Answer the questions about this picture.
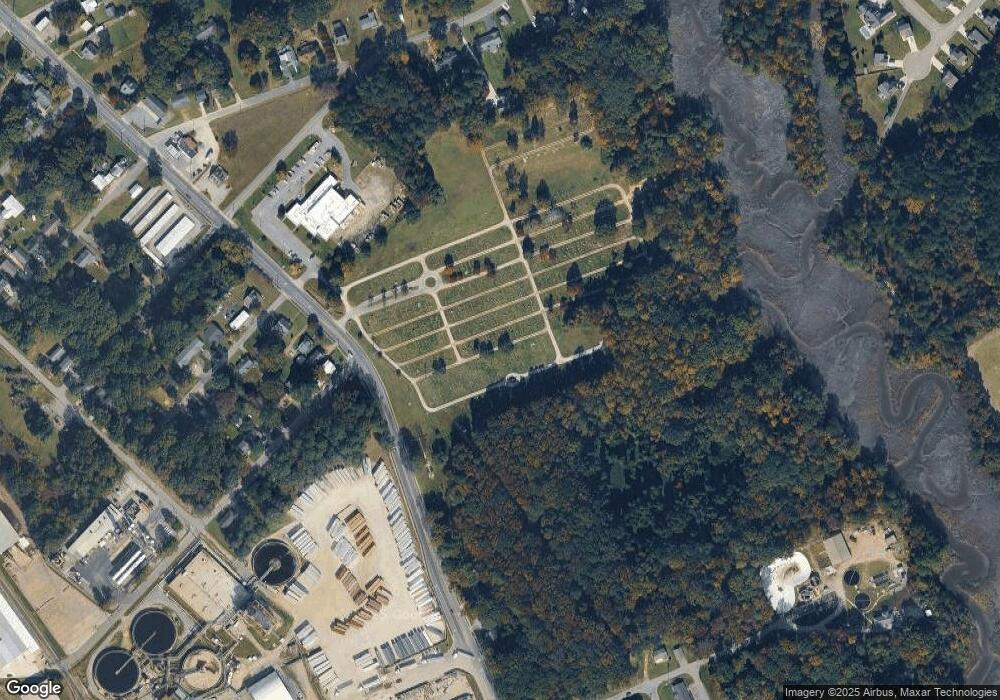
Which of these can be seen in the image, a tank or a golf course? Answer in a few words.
tank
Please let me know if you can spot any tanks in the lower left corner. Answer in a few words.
Yes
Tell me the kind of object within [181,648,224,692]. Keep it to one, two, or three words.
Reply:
storage tank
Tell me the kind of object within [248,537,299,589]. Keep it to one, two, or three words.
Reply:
storage tank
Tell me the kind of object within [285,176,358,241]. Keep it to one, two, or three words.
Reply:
building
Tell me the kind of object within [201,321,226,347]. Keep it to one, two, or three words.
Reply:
house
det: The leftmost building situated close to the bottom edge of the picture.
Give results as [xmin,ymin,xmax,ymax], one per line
[0,595,39,678]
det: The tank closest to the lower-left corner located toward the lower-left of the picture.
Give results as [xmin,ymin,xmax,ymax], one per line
[92,647,142,696]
